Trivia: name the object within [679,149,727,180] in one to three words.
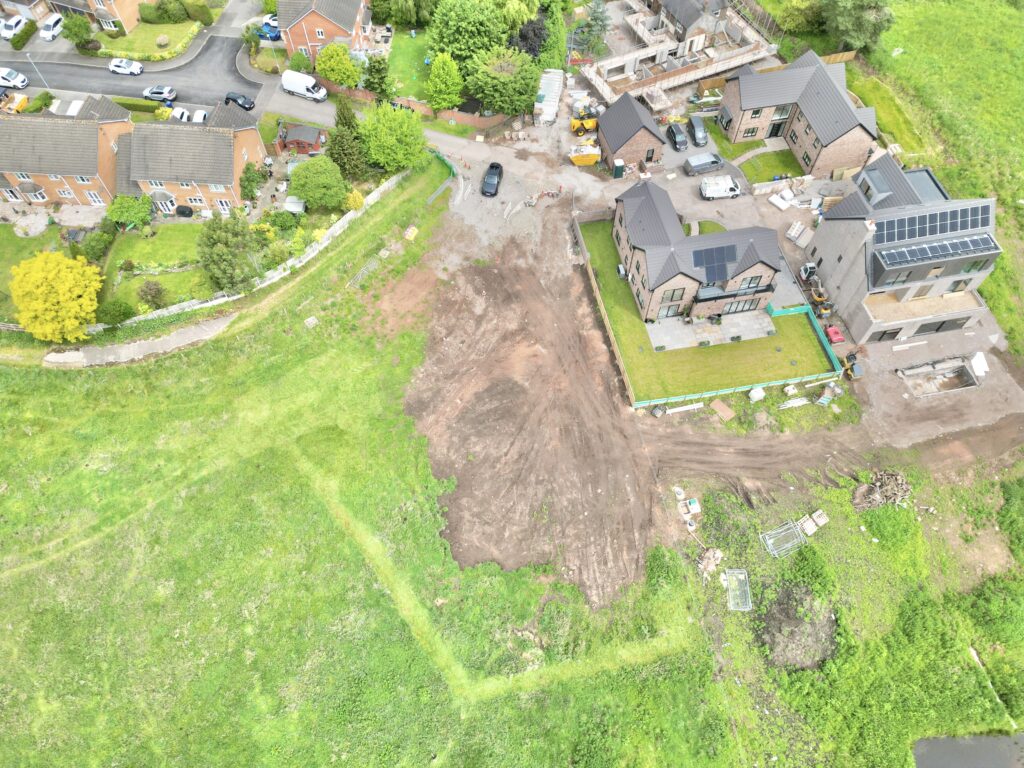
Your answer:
van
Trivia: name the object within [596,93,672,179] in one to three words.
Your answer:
building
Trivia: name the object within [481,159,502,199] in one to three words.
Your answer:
truck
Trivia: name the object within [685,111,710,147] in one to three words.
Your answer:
car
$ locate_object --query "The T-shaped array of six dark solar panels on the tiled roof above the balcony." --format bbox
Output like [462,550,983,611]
[703,237,747,278]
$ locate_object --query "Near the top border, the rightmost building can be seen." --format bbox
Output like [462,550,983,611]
[713,35,883,177]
